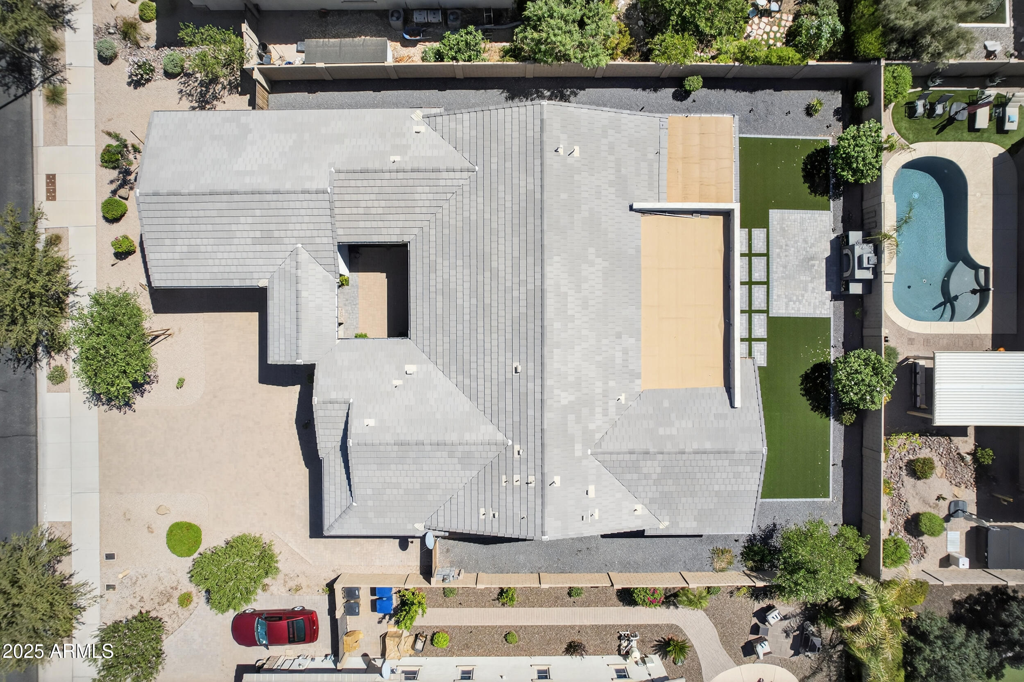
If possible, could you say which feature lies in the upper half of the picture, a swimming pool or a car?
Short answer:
swimming pool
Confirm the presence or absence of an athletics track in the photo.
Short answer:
No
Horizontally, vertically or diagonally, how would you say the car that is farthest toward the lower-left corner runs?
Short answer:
horizontally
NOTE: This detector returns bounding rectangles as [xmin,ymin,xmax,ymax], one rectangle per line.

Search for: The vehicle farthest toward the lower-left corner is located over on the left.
[233,607,320,654]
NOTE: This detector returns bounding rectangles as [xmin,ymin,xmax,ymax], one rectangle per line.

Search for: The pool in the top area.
[893,156,990,321]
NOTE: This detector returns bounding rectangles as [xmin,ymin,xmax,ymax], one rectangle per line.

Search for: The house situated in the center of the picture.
[134,98,768,543]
